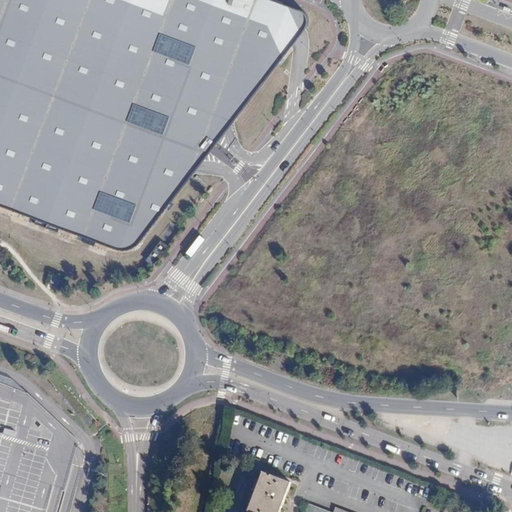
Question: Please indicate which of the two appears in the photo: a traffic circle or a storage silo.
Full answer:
It is a traffic circle that can be seen here.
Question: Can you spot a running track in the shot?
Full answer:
No, there is no running track in the image.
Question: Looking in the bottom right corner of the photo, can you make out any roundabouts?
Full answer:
No, no roundabout can be made out in the bottom right corner of the photo.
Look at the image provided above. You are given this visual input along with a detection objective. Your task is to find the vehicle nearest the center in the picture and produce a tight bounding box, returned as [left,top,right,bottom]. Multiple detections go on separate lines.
[186,236,204,258]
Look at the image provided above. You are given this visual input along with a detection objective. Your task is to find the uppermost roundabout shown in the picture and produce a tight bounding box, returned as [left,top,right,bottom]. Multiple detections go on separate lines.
[344,0,458,65]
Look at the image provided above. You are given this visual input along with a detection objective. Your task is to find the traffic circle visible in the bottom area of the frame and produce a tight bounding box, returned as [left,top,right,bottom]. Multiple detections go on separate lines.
[78,290,205,416]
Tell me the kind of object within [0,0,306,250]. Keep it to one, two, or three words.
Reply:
warehouse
